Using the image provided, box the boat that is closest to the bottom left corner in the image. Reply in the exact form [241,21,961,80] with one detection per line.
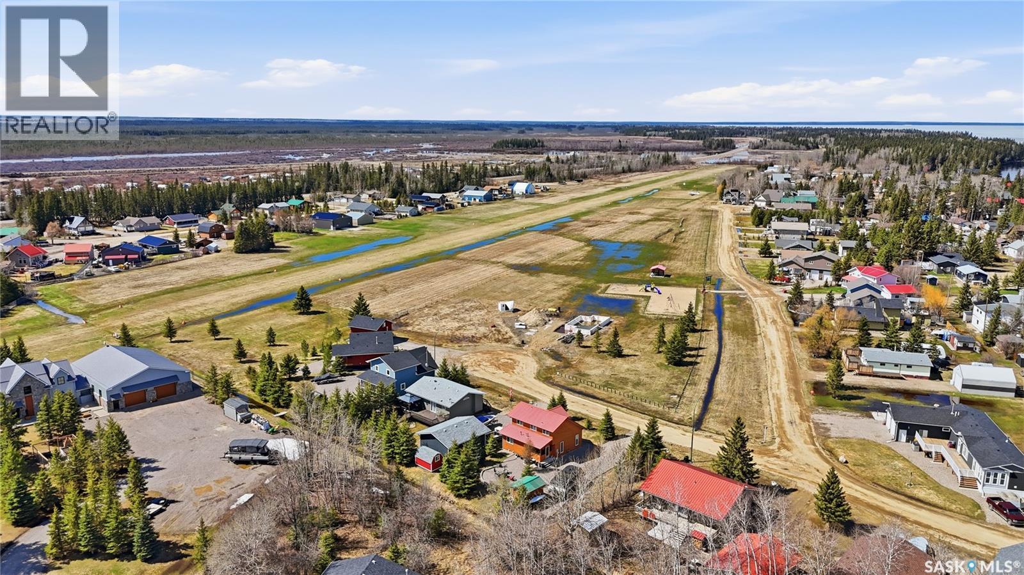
[213,442,273,465]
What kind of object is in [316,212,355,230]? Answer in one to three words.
building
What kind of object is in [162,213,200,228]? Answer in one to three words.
house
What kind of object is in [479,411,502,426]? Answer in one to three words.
boat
